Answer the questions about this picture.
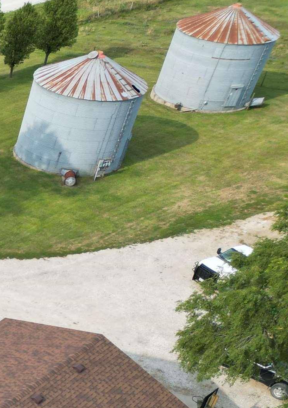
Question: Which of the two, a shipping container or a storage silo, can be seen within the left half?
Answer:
storage silo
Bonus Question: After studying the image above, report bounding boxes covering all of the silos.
[150,1,282,115]
[12,51,149,178]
